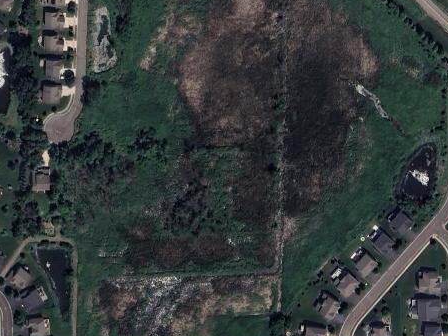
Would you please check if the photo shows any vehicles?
No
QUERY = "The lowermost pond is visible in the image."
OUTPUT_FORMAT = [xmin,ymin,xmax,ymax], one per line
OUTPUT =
[35,247,74,323]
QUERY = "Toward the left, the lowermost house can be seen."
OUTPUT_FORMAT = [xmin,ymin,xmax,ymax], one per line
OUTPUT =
[26,318,52,336]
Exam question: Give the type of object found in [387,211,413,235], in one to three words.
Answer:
house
